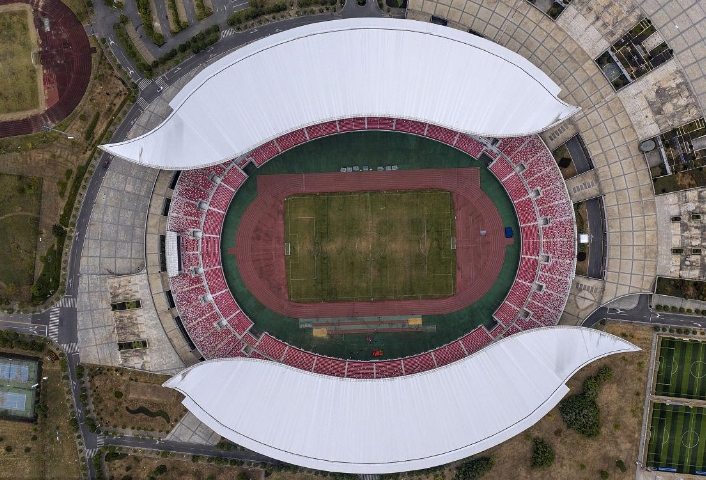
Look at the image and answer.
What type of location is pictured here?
sports ground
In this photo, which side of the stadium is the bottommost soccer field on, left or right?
right of it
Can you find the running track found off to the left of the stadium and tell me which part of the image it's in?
top left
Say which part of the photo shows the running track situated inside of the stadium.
center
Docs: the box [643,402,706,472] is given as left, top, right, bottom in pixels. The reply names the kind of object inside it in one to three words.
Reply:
soccer field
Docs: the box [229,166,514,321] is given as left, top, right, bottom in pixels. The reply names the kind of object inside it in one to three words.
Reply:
running track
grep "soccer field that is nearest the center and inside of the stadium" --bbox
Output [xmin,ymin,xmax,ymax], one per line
[284,191,456,301]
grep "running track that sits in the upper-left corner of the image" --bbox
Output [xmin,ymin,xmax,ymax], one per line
[0,0,90,138]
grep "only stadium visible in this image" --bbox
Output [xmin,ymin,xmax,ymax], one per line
[98,17,641,474]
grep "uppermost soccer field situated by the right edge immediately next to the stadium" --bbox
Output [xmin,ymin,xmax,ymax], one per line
[654,334,706,401]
